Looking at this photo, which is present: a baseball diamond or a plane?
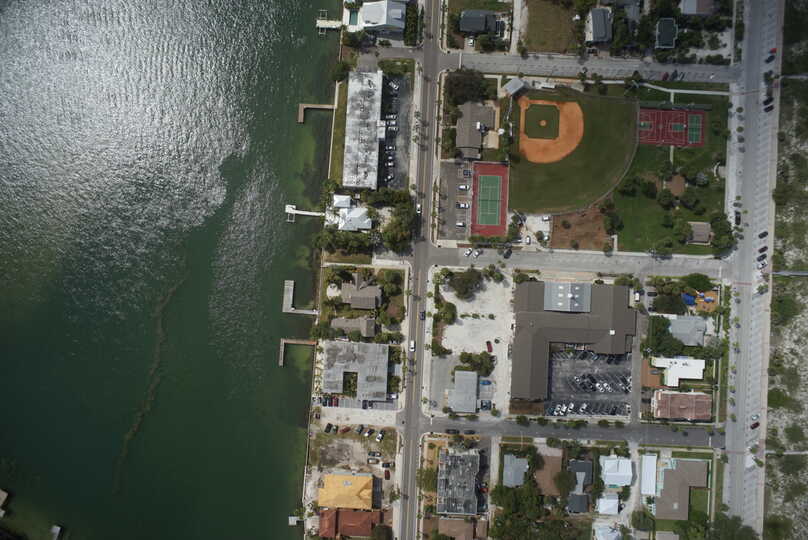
baseball diamond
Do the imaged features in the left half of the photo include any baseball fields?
No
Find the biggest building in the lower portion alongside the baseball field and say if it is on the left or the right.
right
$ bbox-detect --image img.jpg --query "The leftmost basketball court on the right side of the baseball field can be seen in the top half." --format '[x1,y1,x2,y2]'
[638,109,686,146]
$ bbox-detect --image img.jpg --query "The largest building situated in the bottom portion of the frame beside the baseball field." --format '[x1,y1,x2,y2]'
[510,283,638,402]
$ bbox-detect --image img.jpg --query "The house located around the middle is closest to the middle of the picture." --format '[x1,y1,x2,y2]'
[342,272,381,309]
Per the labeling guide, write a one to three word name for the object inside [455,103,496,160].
building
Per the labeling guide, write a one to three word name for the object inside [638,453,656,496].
shed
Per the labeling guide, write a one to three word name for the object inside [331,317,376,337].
house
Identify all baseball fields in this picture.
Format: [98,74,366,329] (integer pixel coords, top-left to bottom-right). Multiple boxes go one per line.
[511,88,638,217]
